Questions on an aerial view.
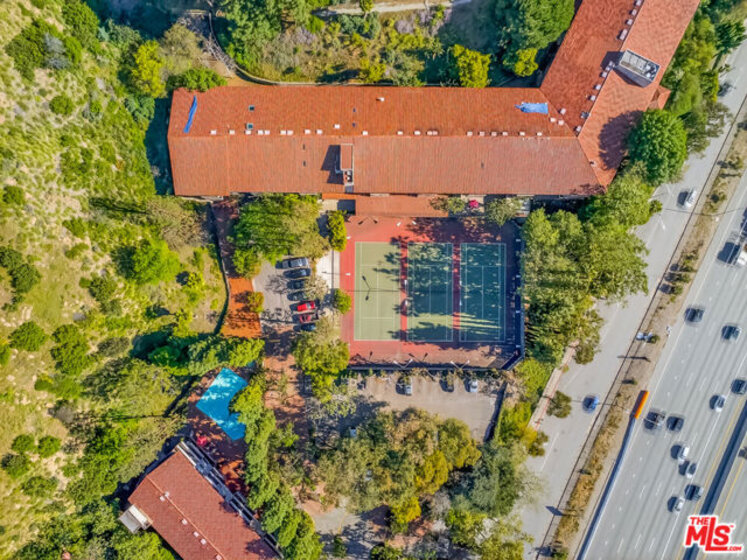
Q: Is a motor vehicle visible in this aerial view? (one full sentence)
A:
Yes, a motor vehicle appears in the view.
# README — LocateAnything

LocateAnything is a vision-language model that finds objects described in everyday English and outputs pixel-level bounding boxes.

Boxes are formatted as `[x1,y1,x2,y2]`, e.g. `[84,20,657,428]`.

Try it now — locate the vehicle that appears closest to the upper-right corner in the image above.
[721,78,736,98]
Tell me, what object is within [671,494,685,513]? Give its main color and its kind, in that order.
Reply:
white vehicle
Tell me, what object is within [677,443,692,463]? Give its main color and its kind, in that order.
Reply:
white car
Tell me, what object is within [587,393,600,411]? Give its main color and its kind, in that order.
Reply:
blue vehicle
